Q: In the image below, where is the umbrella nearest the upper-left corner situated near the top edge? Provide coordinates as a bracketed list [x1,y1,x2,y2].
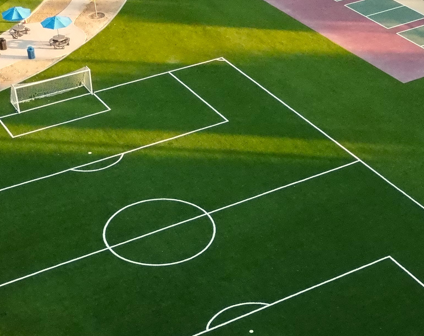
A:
[0,6,29,24]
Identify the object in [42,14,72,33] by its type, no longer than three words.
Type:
umbrella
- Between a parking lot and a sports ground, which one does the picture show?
sports ground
